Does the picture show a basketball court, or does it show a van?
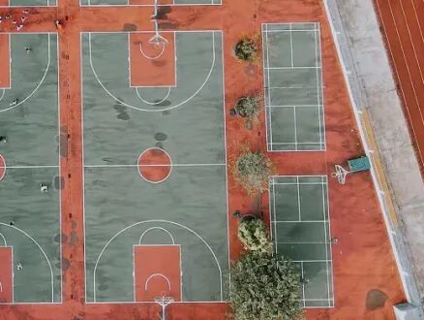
basketball court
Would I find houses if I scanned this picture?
No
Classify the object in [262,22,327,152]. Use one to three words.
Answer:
sports court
